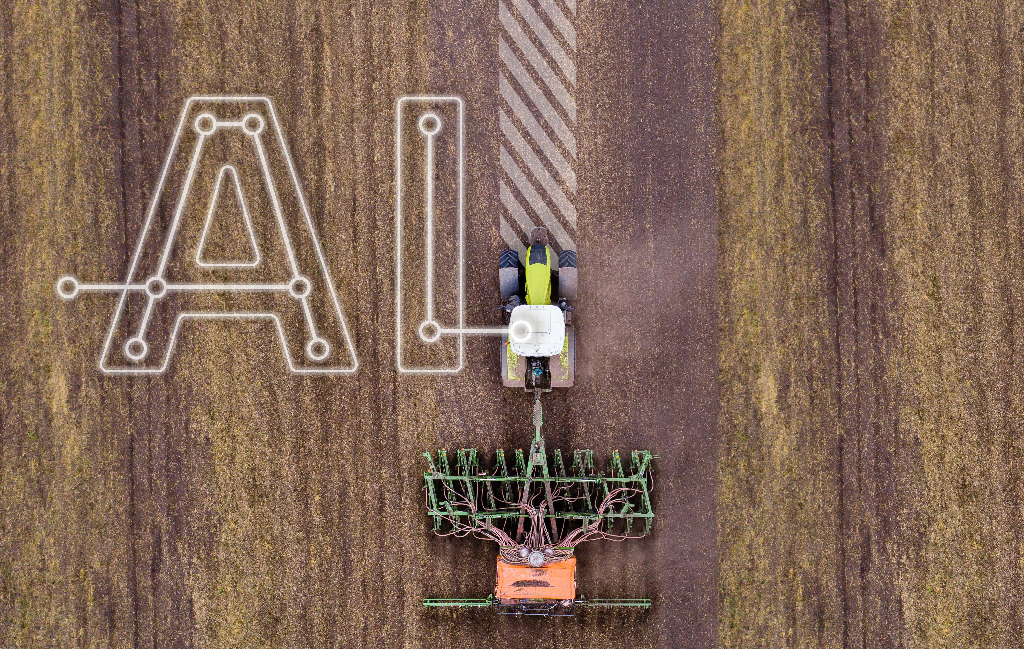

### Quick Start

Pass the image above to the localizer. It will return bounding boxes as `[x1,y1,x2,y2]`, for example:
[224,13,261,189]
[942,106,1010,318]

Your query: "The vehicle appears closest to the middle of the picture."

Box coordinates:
[498,228,578,391]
